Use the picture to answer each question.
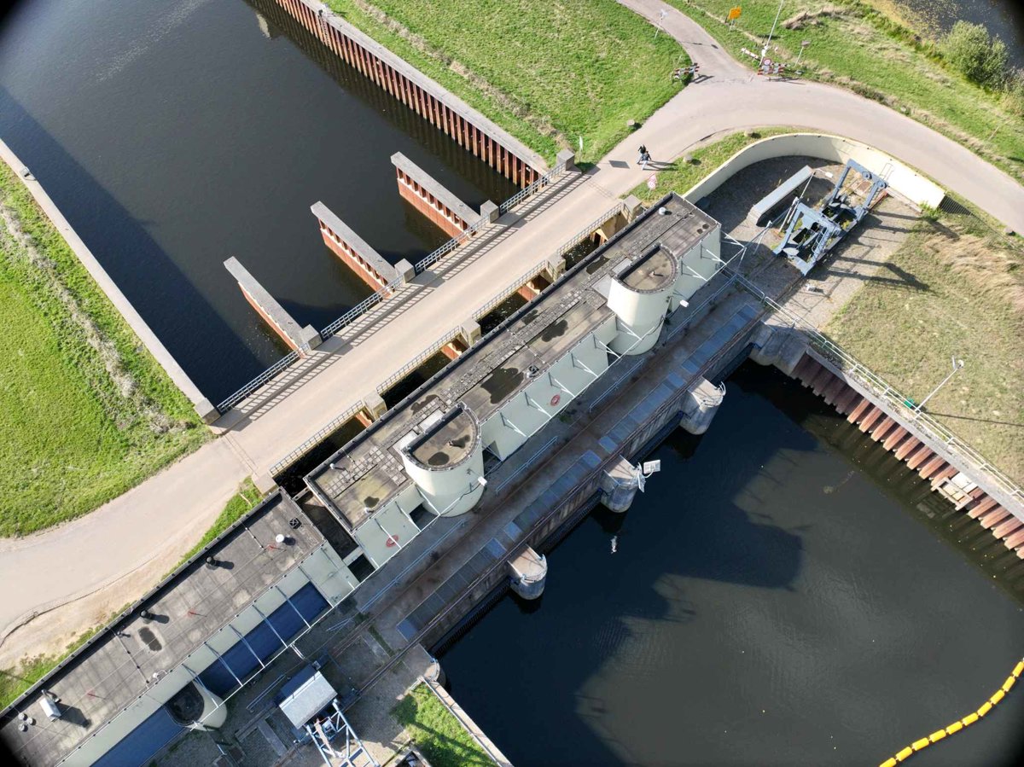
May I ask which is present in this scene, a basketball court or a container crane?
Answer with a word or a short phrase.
container crane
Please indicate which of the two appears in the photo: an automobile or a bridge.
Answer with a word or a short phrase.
bridge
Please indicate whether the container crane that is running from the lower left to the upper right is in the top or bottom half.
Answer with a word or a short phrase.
top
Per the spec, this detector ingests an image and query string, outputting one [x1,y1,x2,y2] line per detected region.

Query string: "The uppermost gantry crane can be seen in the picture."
[769,157,891,276]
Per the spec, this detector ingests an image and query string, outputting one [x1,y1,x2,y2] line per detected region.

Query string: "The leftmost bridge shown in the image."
[193,151,648,496]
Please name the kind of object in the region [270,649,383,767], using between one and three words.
crane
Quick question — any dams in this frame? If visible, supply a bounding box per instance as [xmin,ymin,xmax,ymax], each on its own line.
[205,194,883,767]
